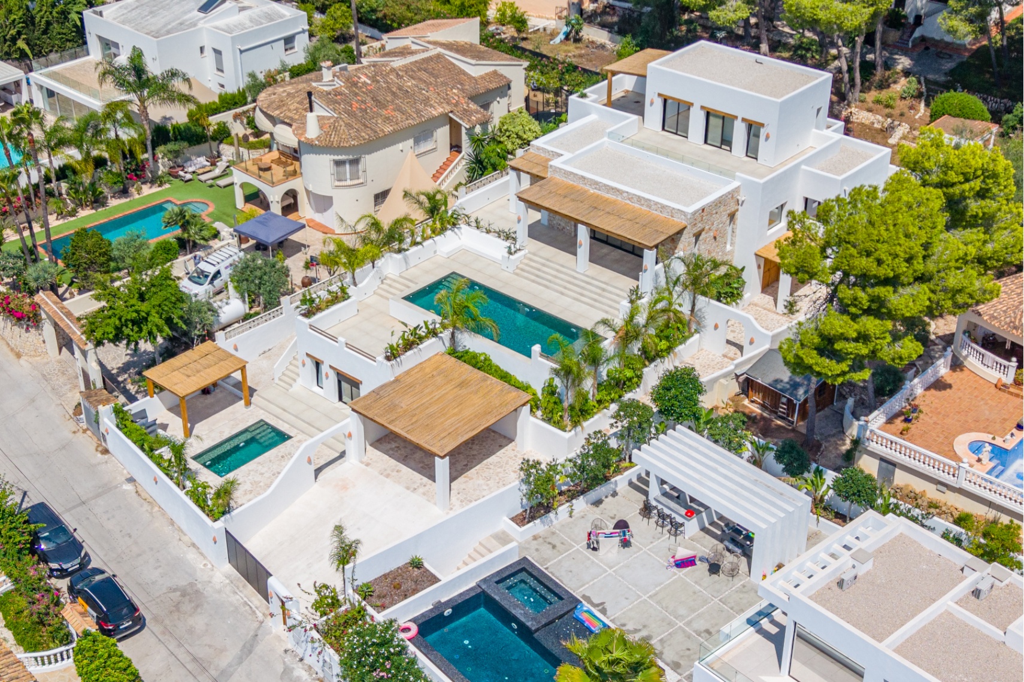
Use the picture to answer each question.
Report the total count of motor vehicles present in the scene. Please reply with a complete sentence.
In total, 3 motor vehicles can be seen.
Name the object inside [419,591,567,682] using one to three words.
swimming pool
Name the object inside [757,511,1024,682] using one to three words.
house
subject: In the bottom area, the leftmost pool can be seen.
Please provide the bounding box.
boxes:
[190,418,294,478]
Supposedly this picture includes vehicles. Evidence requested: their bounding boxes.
[187,239,257,302]
[64,566,145,639]
[12,491,88,570]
